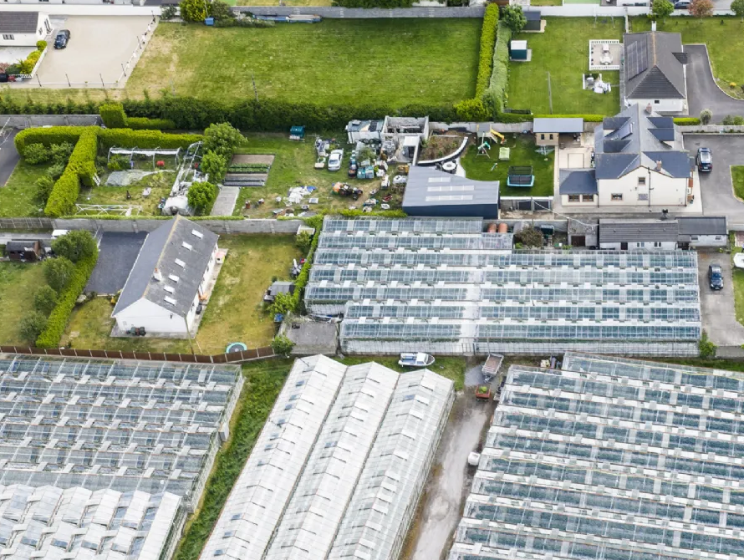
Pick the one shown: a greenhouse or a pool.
greenhouse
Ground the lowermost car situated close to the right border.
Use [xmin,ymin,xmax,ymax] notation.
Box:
[706,262,724,287]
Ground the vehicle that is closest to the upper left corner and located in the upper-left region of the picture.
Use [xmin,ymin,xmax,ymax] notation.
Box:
[52,30,70,48]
